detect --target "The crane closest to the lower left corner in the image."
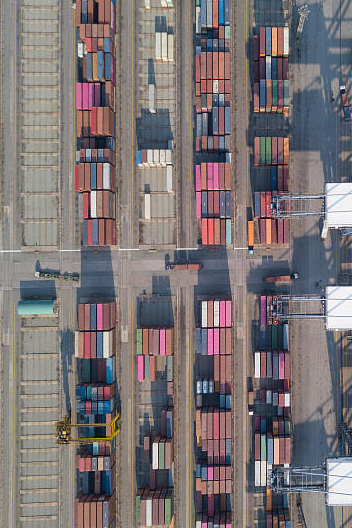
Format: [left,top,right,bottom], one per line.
[53,404,123,444]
